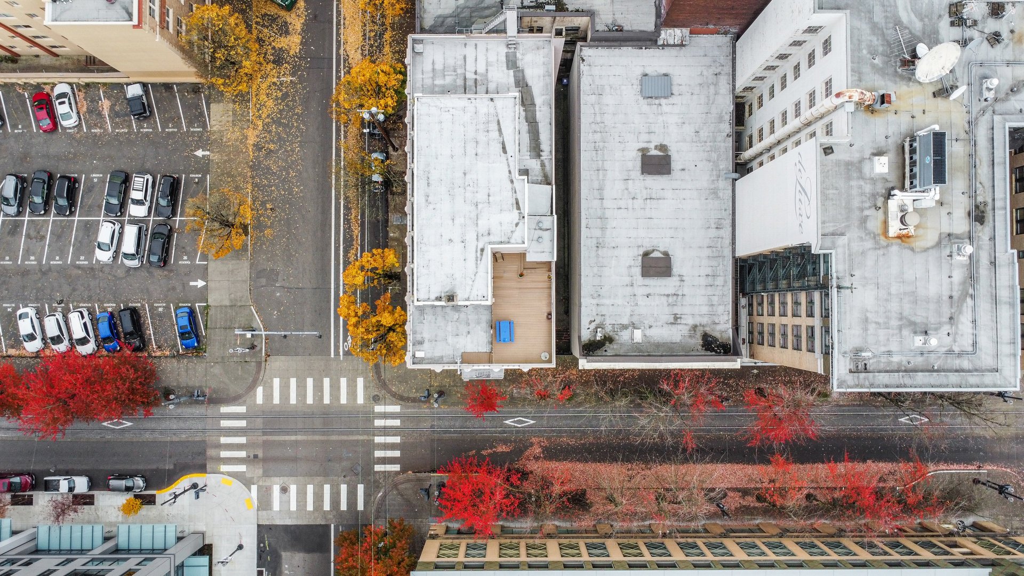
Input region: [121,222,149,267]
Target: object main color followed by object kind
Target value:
white van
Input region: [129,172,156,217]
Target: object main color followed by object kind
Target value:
white car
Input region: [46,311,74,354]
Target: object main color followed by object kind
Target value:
white car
